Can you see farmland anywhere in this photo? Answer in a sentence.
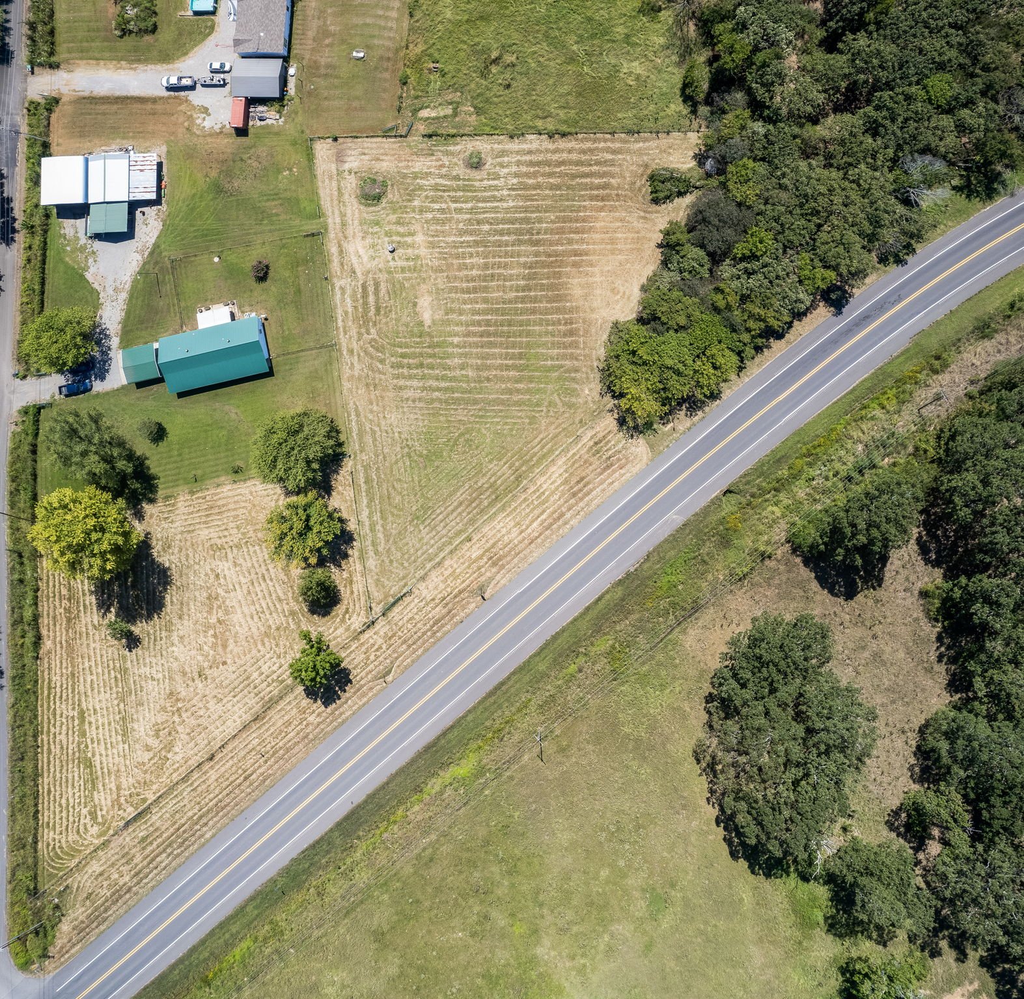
Yes, farmland can be seen from above here.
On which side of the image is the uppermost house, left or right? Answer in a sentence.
It is on the left.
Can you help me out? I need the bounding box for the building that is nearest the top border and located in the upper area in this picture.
[233,0,290,56]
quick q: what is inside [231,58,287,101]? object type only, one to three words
building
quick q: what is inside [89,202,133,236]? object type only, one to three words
building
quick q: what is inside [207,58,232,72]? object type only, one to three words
car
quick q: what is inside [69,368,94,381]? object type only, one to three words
vehicle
